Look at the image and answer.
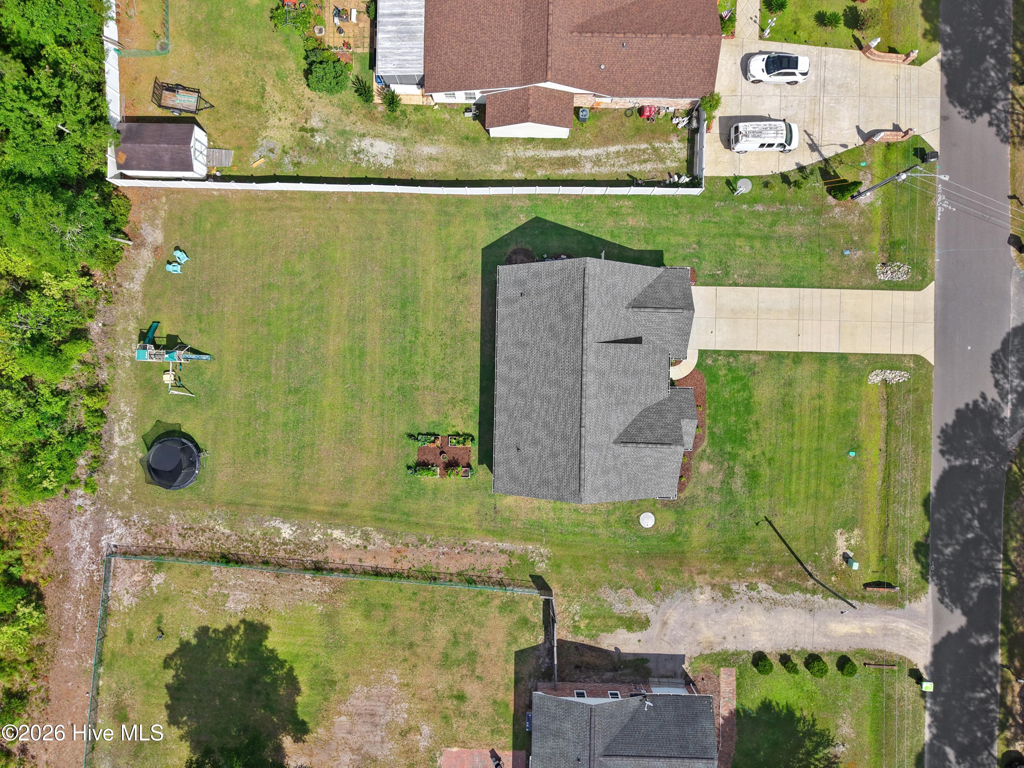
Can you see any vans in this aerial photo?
Yes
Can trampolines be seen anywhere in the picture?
Yes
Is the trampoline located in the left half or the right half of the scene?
left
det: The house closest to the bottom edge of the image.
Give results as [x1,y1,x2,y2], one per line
[530,682,721,768]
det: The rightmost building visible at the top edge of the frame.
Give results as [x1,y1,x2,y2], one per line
[425,0,721,137]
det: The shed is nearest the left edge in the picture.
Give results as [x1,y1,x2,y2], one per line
[107,124,207,177]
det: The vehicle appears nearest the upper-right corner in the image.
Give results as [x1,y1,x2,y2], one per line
[748,51,812,85]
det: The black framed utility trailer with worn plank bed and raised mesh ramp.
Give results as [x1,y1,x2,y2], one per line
[144,73,215,113]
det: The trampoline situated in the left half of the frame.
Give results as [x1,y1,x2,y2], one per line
[138,436,204,490]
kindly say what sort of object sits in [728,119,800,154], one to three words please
van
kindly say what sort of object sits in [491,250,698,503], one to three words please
house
